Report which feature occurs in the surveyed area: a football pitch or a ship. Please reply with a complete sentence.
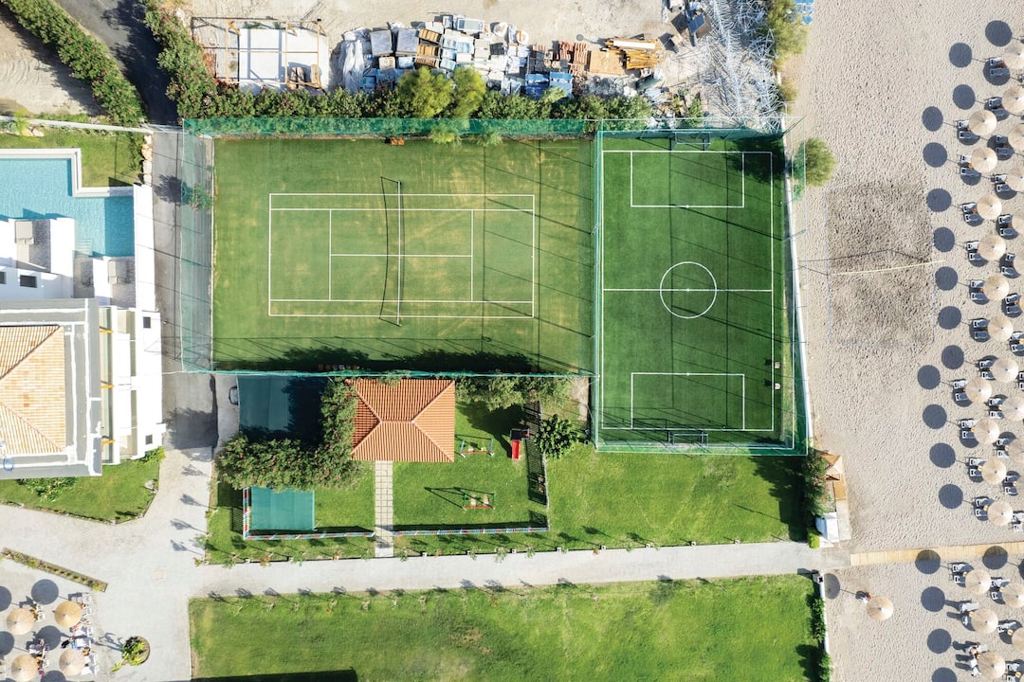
Of the two, only a football pitch appears.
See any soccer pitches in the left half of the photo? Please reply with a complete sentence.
No, I can find no soccer pitch in the left half of the photo.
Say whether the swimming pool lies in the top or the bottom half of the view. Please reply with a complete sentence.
It is in the top half that the swimming pool appears.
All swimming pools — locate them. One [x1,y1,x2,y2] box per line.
[0,149,132,257]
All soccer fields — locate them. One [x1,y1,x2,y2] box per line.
[594,136,783,444]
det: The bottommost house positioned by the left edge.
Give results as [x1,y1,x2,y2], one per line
[0,184,171,478]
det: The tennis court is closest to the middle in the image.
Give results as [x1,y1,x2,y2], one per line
[215,135,593,369]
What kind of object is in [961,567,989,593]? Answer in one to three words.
umbrella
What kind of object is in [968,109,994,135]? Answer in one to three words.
umbrella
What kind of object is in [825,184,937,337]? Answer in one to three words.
sports court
